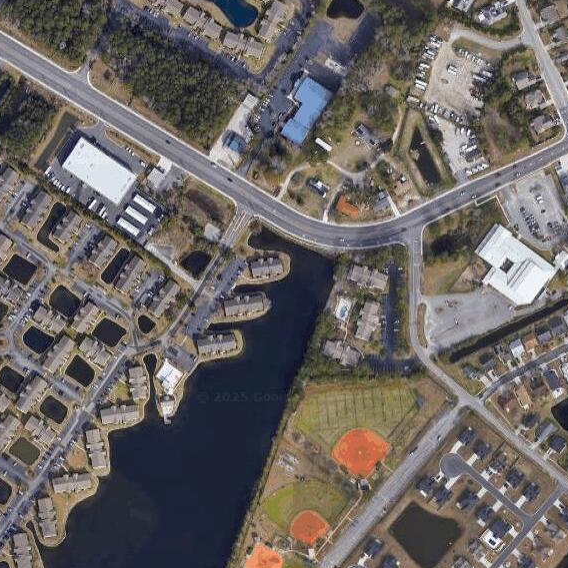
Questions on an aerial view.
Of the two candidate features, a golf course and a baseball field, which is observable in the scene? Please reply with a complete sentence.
Visible in the photo is a baseball field.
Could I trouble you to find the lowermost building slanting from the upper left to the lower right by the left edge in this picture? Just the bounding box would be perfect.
[21,412,59,447]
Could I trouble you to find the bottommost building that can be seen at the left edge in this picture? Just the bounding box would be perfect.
[14,533,32,568]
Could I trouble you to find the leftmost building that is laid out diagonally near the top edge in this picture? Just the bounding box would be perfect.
[183,5,223,36]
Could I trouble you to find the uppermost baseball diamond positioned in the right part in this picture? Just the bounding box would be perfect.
[294,382,420,481]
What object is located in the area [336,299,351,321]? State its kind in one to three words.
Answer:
swimming pool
